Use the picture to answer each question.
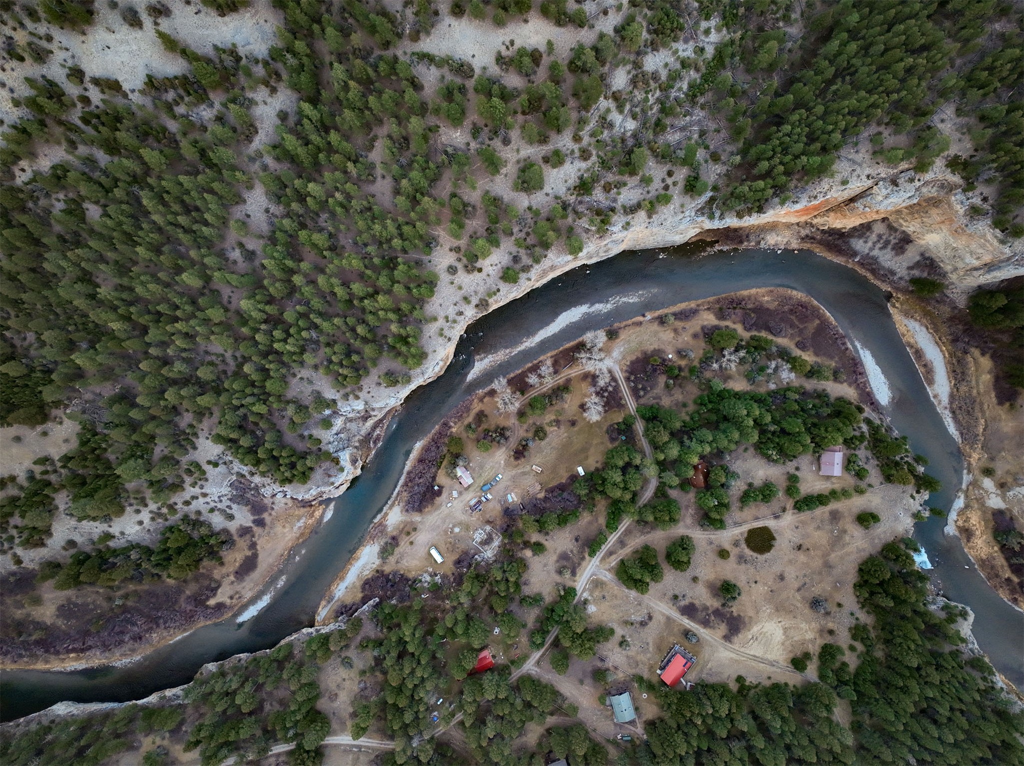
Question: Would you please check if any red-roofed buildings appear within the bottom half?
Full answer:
Yes, within the bottom half there is a red-roofed building.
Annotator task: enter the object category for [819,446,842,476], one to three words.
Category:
building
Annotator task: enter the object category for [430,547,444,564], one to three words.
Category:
vehicle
